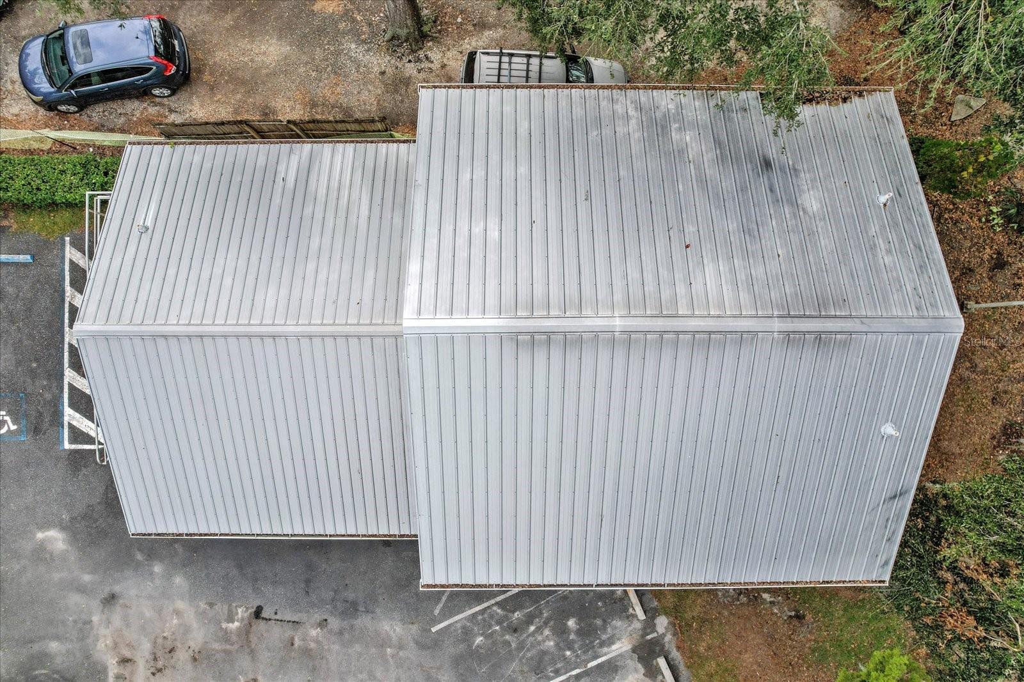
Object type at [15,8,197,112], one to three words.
car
